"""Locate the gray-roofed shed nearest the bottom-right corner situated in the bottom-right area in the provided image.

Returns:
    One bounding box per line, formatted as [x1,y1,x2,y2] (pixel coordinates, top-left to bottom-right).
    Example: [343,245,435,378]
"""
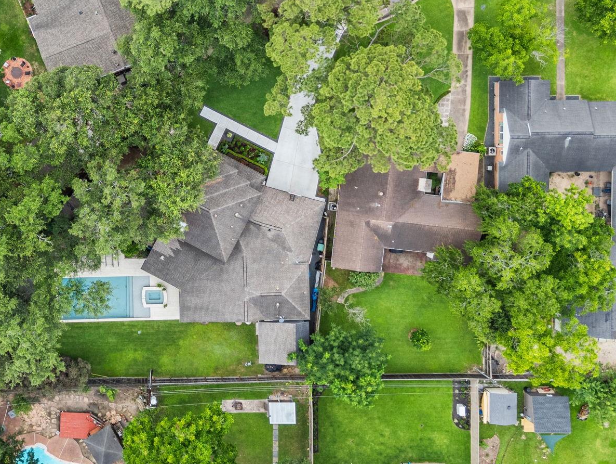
[521,391,570,433]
